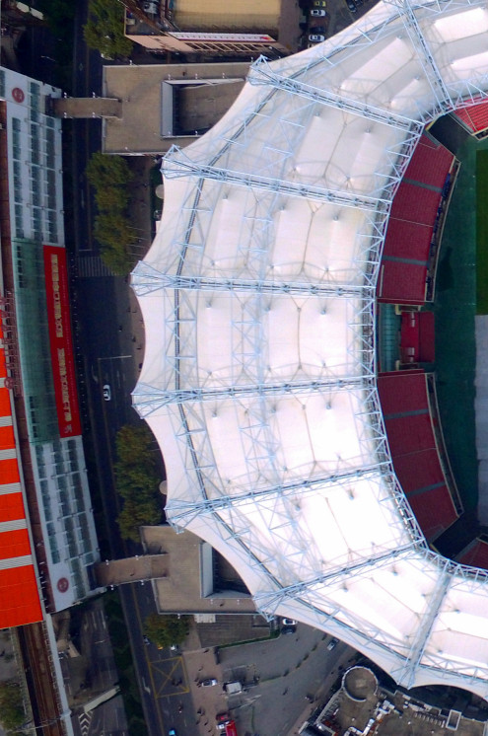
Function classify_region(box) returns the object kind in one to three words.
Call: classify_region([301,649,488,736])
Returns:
building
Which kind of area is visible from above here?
sports ground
